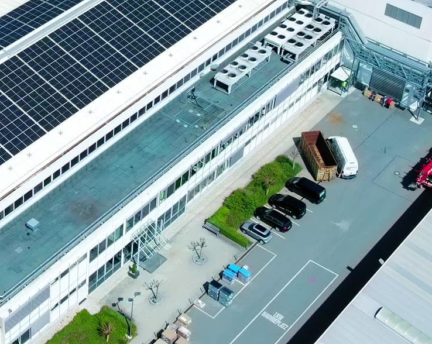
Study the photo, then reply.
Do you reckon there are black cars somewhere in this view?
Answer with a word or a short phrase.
Yes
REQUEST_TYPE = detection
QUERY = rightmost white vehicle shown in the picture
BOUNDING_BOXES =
[327,137,357,176]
